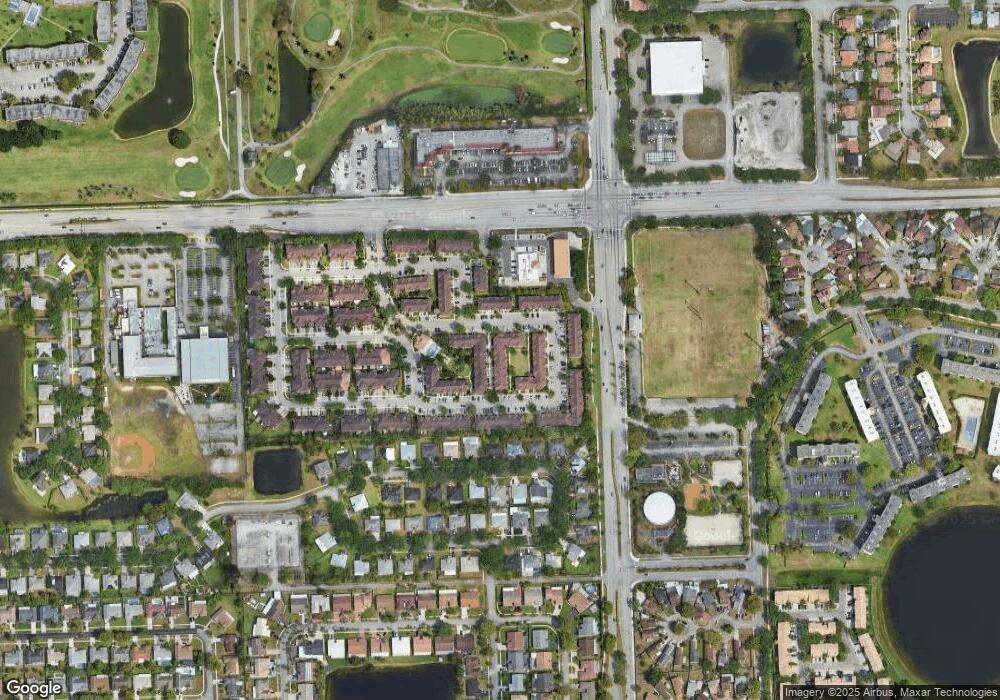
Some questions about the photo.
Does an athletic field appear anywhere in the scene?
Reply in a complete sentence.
Yes, this view includes an athletic field.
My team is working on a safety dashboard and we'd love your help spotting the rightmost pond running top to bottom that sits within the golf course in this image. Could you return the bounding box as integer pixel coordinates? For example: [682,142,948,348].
[278,35,312,131]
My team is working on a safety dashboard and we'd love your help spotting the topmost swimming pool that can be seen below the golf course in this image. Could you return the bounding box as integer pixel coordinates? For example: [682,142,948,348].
[422,340,439,358]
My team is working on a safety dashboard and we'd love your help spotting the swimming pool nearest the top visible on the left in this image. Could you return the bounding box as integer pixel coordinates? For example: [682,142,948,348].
[22,4,42,27]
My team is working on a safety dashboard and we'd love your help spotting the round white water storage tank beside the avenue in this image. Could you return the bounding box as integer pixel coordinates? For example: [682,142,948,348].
[644,492,677,524]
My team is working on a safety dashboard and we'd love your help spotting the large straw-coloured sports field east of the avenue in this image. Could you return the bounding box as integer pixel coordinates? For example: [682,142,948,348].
[634,225,765,399]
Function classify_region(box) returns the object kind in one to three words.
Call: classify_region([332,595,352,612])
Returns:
house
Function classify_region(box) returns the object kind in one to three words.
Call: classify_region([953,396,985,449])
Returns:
swimming pool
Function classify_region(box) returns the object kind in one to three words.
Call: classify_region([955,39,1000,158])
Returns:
pond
